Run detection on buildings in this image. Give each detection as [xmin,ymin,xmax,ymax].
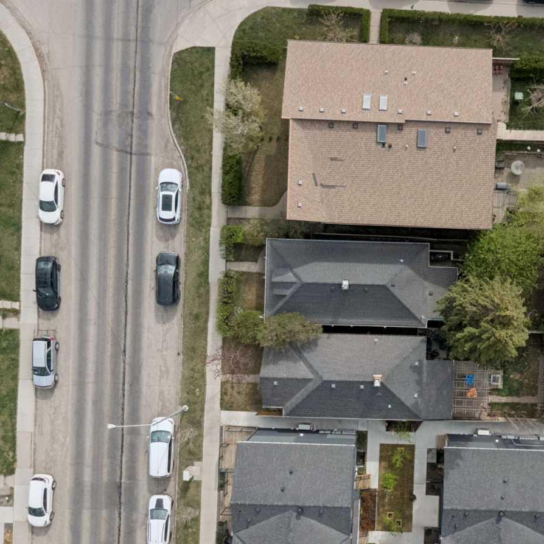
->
[282,39,496,229]
[260,332,453,420]
[230,428,360,544]
[264,238,457,329]
[438,434,544,544]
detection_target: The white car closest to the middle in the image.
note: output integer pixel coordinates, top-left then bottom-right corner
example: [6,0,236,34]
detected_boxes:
[154,169,183,225]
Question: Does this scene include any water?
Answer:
No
